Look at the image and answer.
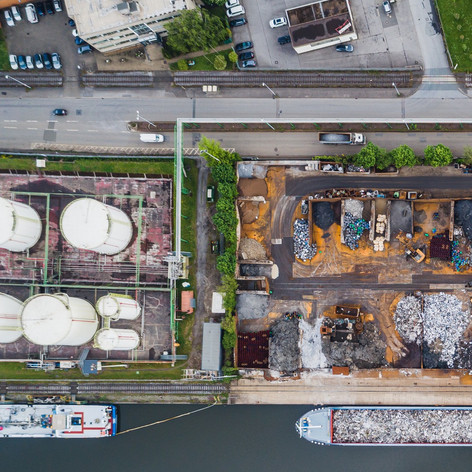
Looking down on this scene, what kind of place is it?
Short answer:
industrial area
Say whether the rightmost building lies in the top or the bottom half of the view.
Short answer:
top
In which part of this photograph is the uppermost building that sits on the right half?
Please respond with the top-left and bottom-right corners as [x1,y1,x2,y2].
[285,0,357,53]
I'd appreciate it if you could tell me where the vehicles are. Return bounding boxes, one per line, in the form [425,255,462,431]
[43,52,53,69]
[236,40,253,51]
[383,0,391,15]
[52,52,62,69]
[45,0,56,16]
[53,0,63,12]
[74,36,88,45]
[276,34,291,45]
[4,10,16,27]
[23,0,37,23]
[51,107,68,116]
[139,133,162,141]
[69,28,79,36]
[239,51,254,61]
[24,54,35,70]
[65,18,75,27]
[462,281,472,288]
[77,45,94,54]
[18,54,28,70]
[241,60,256,67]
[224,0,240,7]
[317,132,366,144]
[269,17,286,28]
[227,5,243,16]
[11,4,22,22]
[9,54,19,69]
[230,17,247,27]
[36,1,47,16]
[394,230,426,265]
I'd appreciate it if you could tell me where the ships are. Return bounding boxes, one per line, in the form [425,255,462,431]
[0,405,121,438]
[296,406,472,446]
